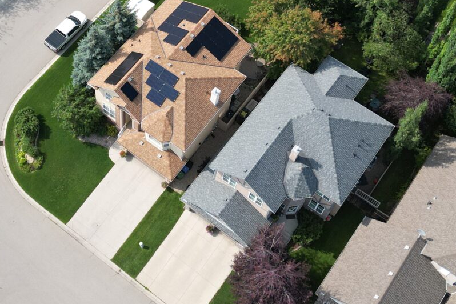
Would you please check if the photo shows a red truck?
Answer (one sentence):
No, this view has no red truck in it.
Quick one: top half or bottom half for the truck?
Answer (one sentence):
The truck sits in the top half of the picture.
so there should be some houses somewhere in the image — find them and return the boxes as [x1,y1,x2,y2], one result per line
[181,56,395,249]
[88,0,252,185]
[315,135,456,304]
